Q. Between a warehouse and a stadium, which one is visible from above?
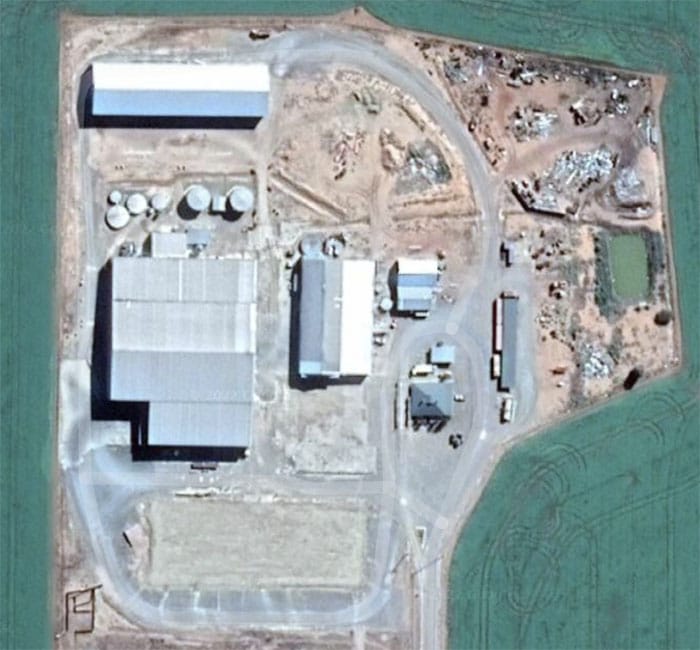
warehouse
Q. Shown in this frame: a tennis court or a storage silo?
storage silo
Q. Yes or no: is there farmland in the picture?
Yes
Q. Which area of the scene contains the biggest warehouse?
left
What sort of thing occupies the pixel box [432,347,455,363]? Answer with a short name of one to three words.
shed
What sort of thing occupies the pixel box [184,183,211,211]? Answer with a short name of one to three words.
silo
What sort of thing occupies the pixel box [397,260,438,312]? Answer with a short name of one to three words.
building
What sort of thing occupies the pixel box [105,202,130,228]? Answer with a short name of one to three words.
water tank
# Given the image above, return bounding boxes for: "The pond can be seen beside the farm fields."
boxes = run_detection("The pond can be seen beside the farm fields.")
[603,226,656,312]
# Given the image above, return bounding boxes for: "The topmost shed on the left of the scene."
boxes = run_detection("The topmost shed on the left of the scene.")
[92,62,270,117]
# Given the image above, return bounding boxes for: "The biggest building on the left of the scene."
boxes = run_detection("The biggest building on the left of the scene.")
[111,258,256,448]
